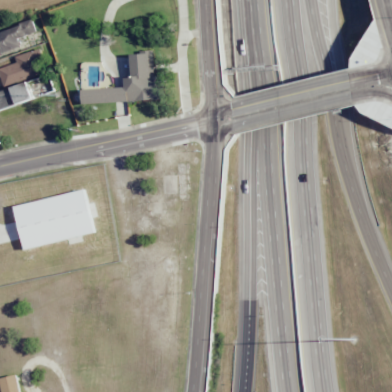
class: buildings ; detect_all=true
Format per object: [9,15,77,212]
[79,54,154,105]
[0,376,22,392]
[0,50,38,88]
[0,20,38,53]
[0,78,58,112]
[12,190,99,250]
